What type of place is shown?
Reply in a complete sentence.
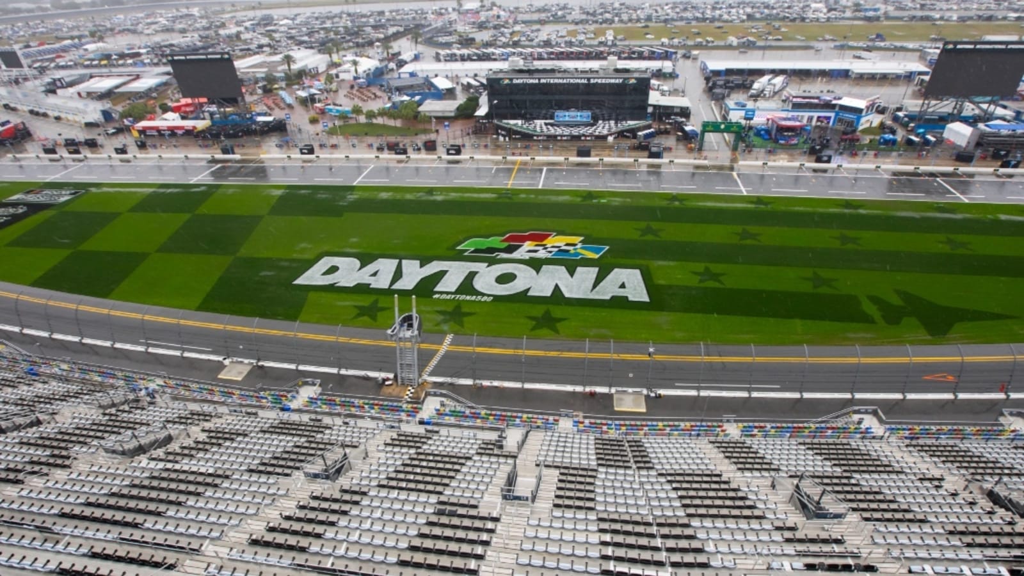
What you see here is a sports ground.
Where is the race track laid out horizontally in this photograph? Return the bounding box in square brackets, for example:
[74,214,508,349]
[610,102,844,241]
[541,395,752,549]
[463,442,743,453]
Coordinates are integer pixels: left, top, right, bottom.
[0,286,1024,393]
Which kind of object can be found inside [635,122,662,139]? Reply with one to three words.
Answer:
vehicle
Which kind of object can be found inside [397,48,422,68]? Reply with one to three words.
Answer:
vehicle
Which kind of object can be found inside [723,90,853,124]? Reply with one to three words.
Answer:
building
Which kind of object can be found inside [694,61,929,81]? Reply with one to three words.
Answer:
building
